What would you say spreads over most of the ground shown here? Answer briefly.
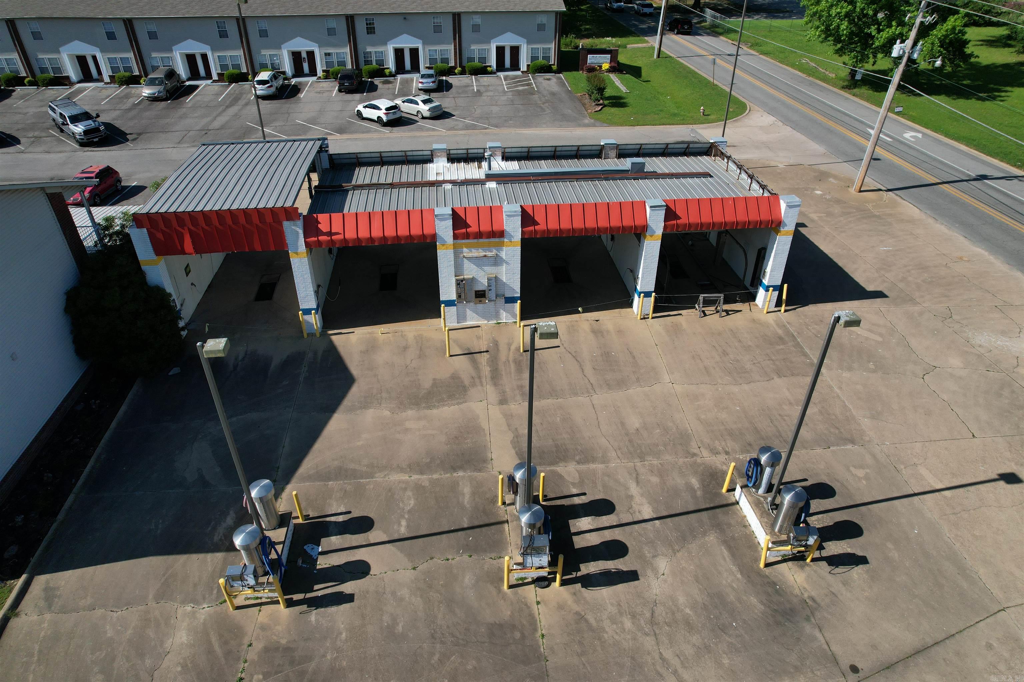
paved ground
